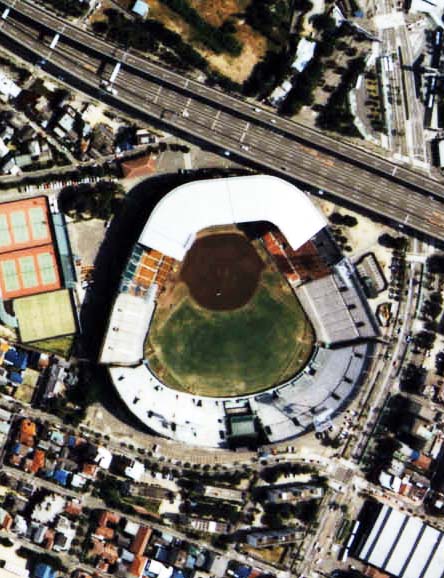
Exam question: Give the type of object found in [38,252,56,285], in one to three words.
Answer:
tennis court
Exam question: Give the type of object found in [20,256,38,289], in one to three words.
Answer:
tennis court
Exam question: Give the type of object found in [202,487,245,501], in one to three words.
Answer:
building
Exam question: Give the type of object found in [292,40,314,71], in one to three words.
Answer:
house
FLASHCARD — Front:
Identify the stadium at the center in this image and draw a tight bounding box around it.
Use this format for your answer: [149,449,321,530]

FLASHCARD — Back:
[100,176,382,450]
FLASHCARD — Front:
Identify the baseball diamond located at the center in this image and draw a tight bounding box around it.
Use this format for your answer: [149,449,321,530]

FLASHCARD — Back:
[143,225,319,402]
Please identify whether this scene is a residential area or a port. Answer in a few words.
residential area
